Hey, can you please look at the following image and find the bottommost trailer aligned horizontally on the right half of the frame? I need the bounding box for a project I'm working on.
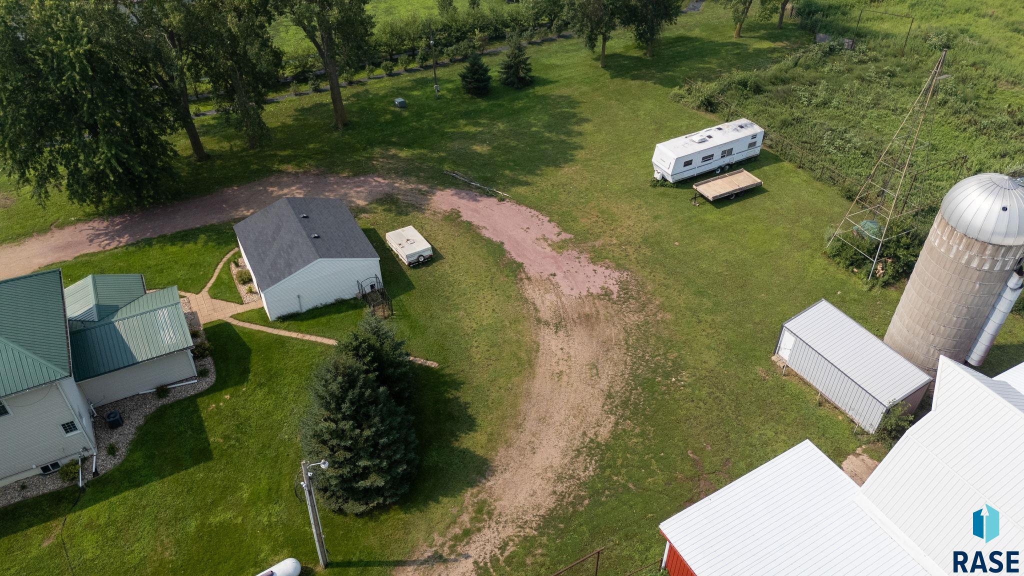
[686,168,763,207]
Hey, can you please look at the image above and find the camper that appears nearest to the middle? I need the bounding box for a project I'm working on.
[387,227,433,268]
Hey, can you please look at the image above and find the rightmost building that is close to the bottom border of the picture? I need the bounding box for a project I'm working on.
[658,354,1024,576]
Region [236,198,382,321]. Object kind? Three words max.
building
